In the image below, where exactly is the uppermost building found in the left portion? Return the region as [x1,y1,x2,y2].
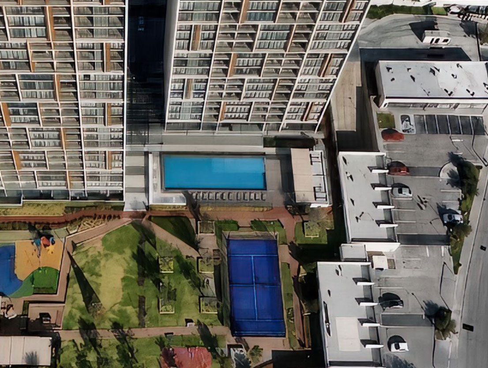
[134,0,166,52]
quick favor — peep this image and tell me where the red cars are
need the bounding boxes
[388,165,409,175]
[384,131,405,142]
